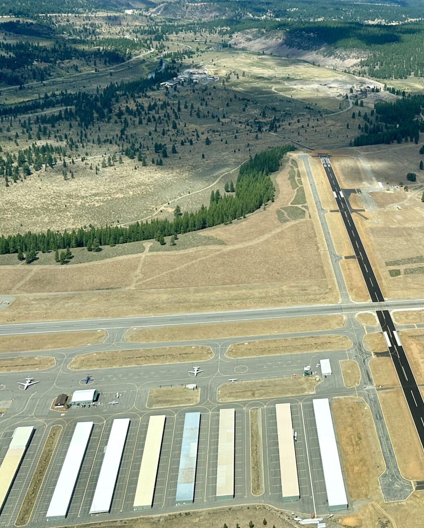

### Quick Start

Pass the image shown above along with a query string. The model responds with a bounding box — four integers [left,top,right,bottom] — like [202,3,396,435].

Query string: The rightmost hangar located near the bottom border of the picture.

[313,398,347,511]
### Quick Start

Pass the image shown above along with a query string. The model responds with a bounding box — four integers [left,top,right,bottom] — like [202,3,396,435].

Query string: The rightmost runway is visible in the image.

[320,156,424,450]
